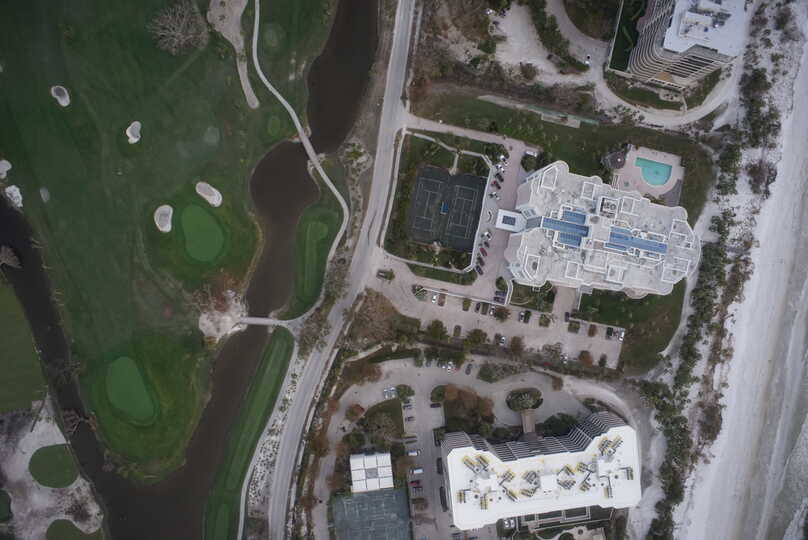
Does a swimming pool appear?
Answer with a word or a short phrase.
Yes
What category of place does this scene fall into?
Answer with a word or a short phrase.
golf course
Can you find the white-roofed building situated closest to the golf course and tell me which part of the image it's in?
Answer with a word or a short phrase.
bottom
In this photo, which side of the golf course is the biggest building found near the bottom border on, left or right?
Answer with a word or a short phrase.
to the right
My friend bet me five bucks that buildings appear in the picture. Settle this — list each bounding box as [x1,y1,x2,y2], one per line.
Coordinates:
[499,160,701,299]
[350,452,394,493]
[443,411,642,531]
[630,0,746,79]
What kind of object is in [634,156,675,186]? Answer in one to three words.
swimming pool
